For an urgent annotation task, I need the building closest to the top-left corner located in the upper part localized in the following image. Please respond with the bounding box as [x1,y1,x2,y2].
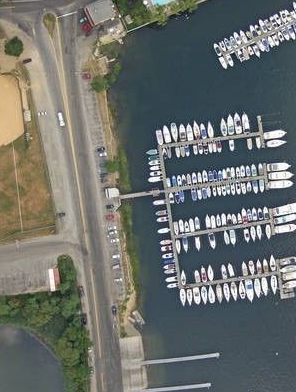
[82,0,115,27]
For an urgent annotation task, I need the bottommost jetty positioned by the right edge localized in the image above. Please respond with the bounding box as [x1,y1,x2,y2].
[181,259,296,299]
